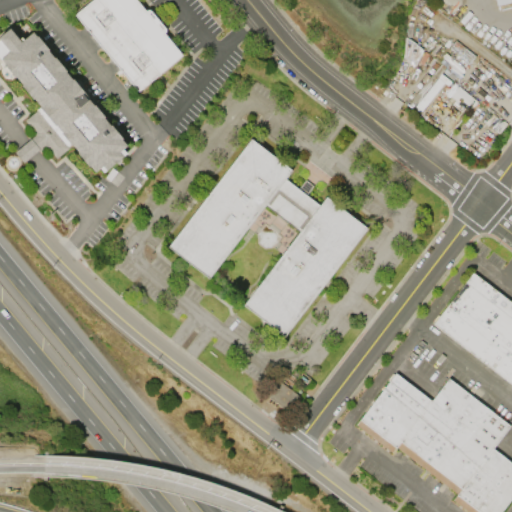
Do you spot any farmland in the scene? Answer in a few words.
No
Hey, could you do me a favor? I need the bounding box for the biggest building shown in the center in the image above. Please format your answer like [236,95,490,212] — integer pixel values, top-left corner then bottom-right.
[169,138,370,334]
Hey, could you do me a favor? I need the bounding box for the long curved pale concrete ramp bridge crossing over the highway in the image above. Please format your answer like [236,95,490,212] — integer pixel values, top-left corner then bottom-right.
[0,454,286,512]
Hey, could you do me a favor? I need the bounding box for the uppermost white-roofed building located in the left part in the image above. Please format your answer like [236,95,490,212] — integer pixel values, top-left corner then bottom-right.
[76,0,184,92]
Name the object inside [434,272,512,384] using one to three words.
building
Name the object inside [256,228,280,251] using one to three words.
gazebo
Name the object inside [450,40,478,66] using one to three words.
shed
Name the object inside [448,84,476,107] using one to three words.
shed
